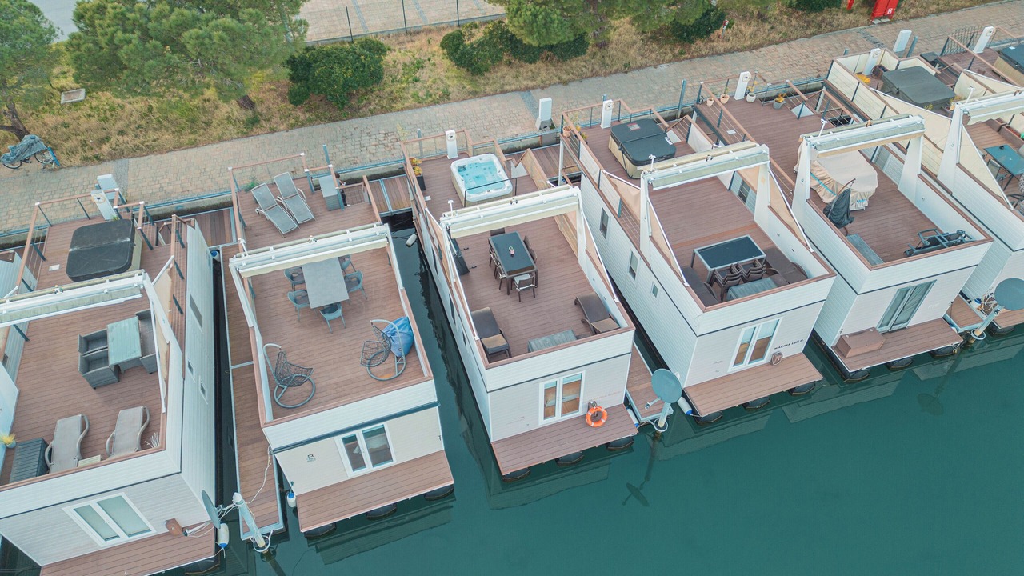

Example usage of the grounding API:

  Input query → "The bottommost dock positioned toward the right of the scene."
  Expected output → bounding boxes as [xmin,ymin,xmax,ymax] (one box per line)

[626,344,674,426]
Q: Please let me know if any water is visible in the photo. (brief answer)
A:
Yes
